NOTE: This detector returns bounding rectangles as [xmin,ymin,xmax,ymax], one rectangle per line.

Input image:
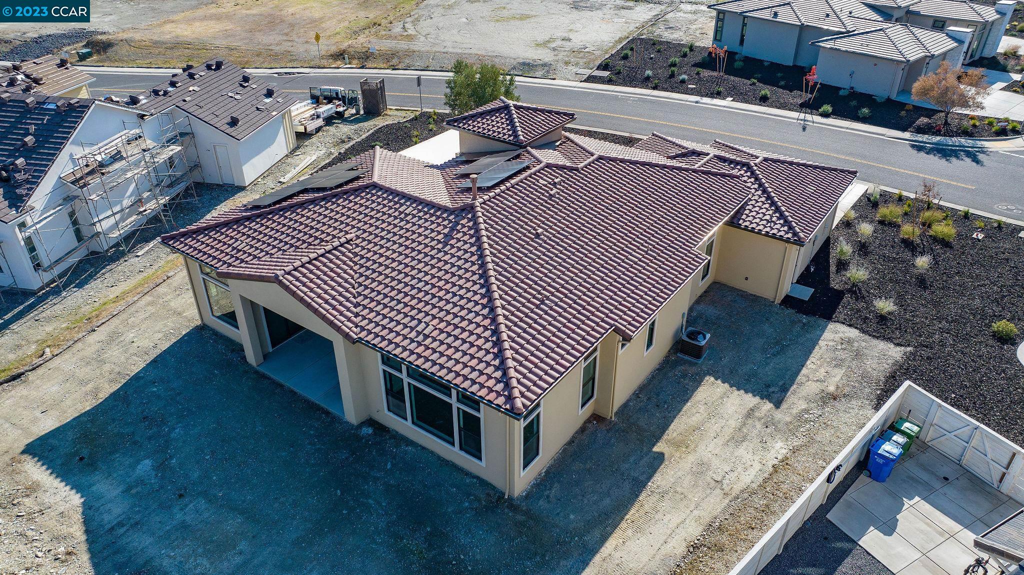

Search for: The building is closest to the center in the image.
[157,94,862,496]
